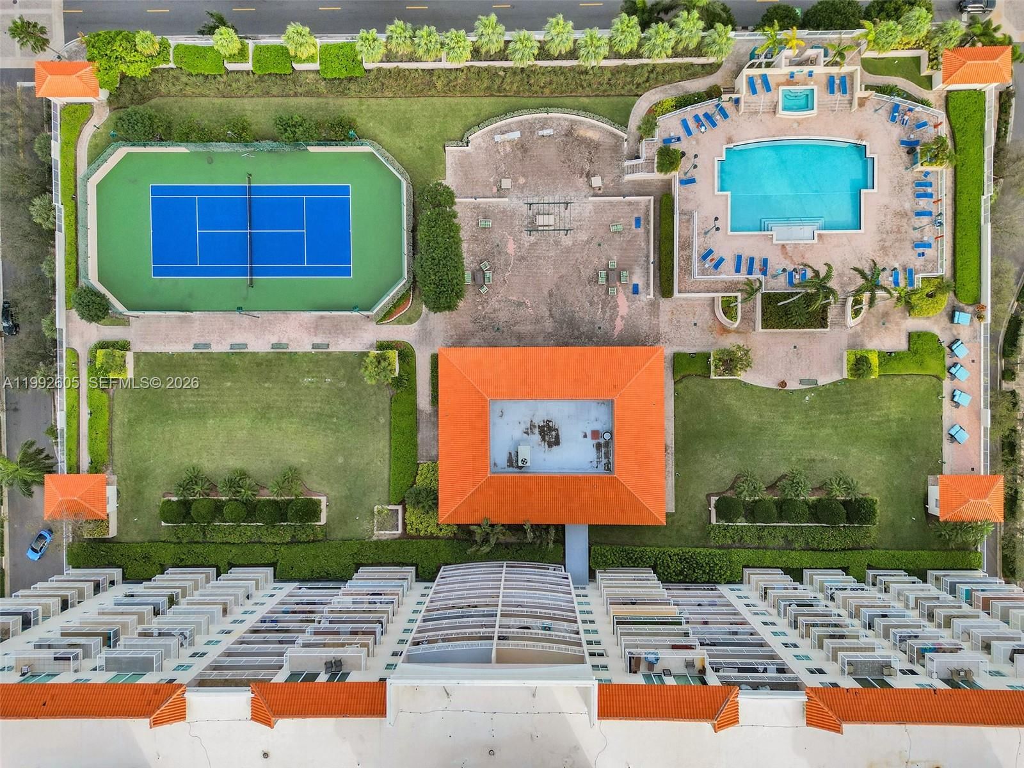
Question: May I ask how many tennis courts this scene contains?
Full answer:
In total, there is 1 tennis court in the scene.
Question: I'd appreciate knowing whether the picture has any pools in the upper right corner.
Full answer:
Yes, you'll find a pool in the upper right corner.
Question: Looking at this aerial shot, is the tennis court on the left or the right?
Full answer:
You can find the tennis court on the left side of the picture.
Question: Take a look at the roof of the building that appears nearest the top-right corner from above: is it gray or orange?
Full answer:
The roof of the building that appears nearest the top-right corner is orange.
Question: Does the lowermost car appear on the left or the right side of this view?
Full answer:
It is on the left.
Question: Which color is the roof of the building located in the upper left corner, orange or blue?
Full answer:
From above, the roof of the building located in the upper left corner appears orange.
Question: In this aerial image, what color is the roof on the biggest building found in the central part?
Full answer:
The roof of the biggest building found in the central part is orange.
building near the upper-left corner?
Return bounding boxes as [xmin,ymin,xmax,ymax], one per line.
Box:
[33,61,117,106]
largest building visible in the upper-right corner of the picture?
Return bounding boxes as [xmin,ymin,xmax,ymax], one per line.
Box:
[925,45,1014,95]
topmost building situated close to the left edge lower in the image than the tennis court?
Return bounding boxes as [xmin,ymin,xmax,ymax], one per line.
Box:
[43,474,122,538]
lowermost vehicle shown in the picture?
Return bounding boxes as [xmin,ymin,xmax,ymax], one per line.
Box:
[29,528,56,562]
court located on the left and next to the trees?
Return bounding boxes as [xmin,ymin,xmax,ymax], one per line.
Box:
[95,151,405,312]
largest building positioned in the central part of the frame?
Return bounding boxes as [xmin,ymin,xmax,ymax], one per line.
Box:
[437,347,667,526]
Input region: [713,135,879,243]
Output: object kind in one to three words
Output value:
swimming pool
